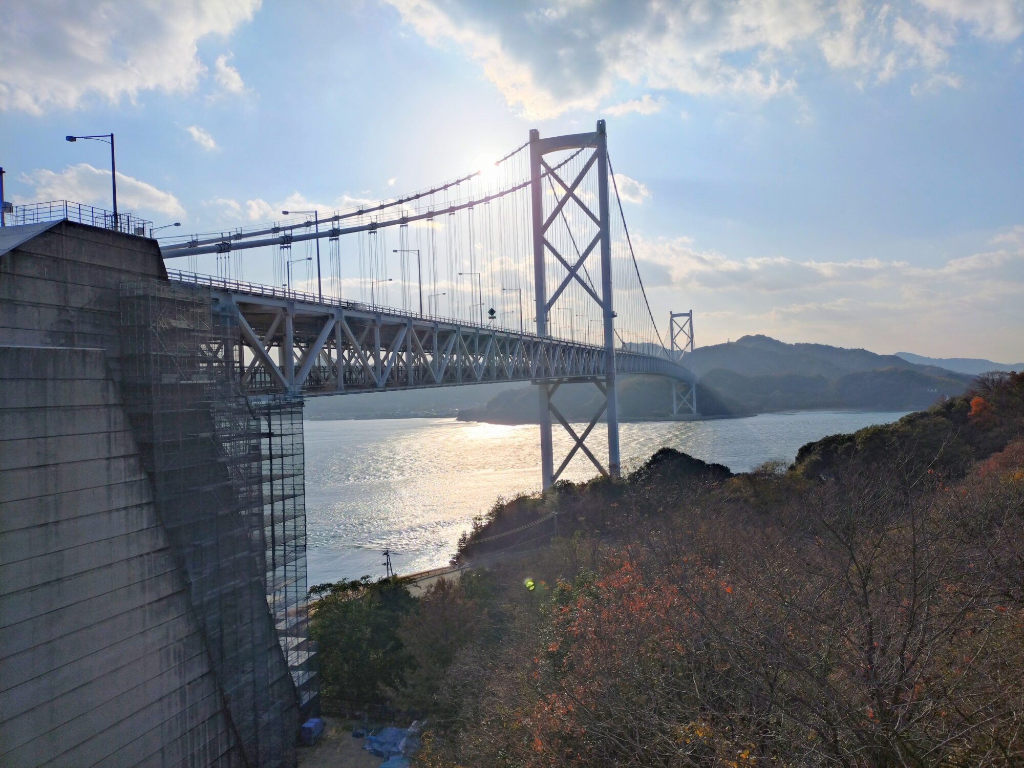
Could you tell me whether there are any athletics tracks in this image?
No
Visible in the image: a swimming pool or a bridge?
bridge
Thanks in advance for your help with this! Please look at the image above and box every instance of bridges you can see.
[162,118,700,488]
